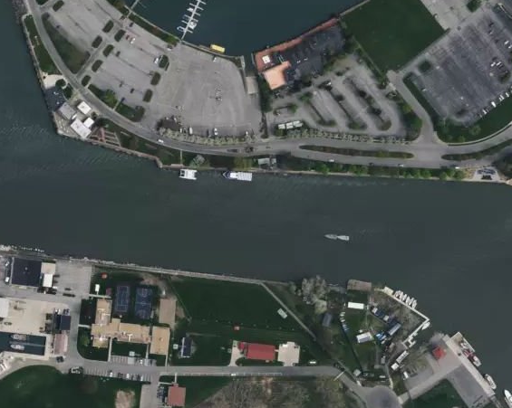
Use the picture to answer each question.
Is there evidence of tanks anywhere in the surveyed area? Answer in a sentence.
No, I can see no tank in this picture.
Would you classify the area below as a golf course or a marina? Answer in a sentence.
The area seen from above is a marina.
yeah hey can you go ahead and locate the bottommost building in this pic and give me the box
[168,387,188,407]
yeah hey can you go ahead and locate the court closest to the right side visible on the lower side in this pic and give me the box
[135,288,152,319]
